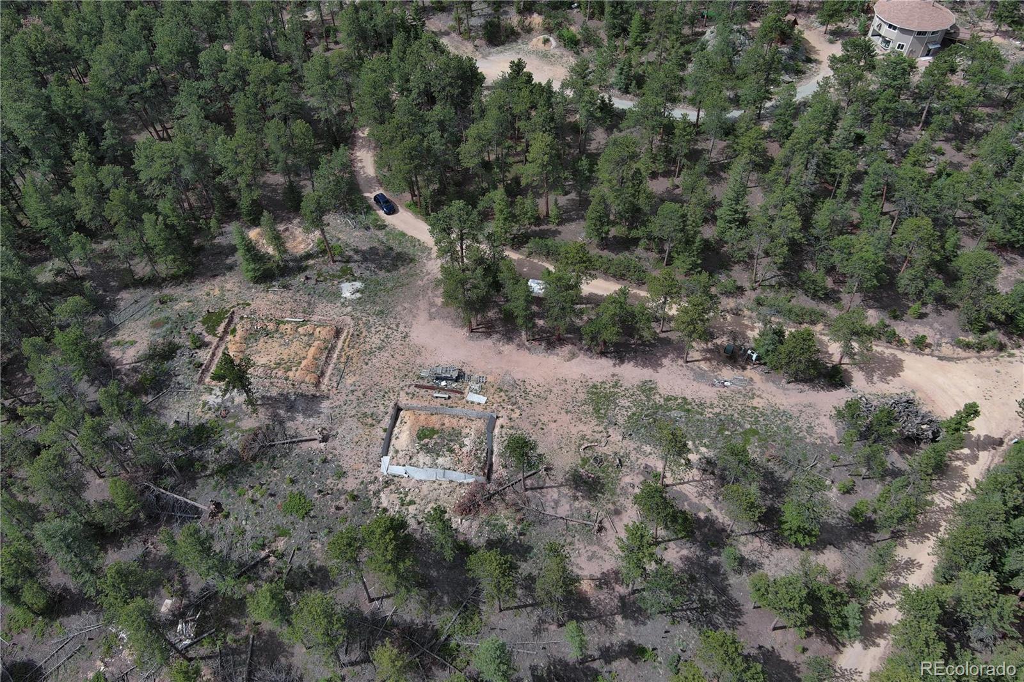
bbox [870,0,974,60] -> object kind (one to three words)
house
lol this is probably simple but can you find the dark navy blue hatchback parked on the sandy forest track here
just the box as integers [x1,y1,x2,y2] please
[372,189,395,213]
